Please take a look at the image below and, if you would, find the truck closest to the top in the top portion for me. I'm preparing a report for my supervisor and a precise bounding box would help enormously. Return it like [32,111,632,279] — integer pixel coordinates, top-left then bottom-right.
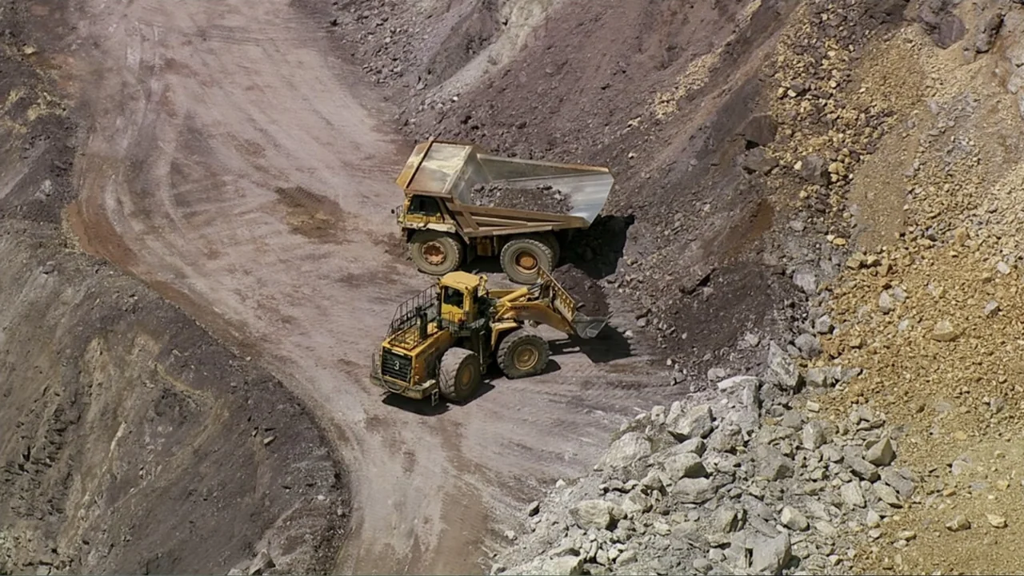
[382,140,613,277]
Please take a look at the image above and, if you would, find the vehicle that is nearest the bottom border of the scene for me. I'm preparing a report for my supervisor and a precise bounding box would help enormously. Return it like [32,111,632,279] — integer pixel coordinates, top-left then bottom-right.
[367,260,612,414]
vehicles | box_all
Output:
[382,140,613,277]
[367,260,612,414]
